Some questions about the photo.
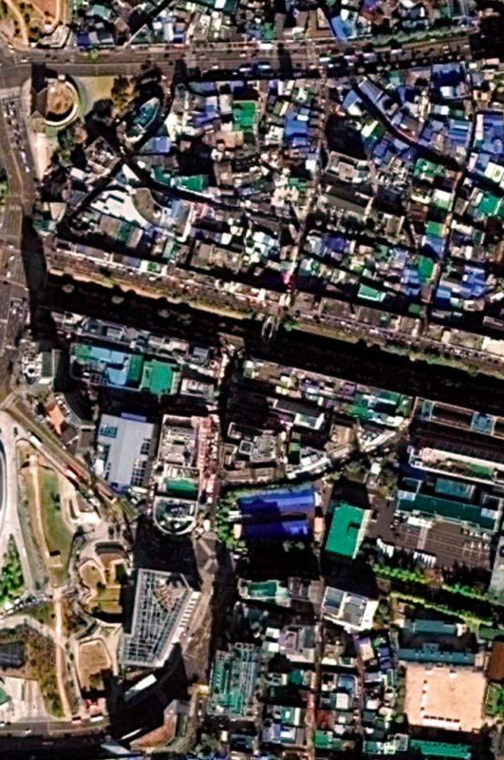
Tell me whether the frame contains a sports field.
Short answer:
Yes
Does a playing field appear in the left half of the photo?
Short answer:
No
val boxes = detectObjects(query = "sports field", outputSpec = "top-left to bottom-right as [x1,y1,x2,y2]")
[406,665,486,732]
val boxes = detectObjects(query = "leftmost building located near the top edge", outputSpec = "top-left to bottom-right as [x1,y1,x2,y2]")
[42,25,75,48]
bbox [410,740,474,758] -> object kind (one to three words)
building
